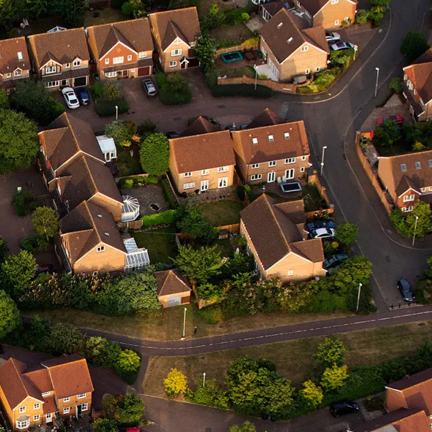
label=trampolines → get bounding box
[221,50,244,63]
[280,181,302,194]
